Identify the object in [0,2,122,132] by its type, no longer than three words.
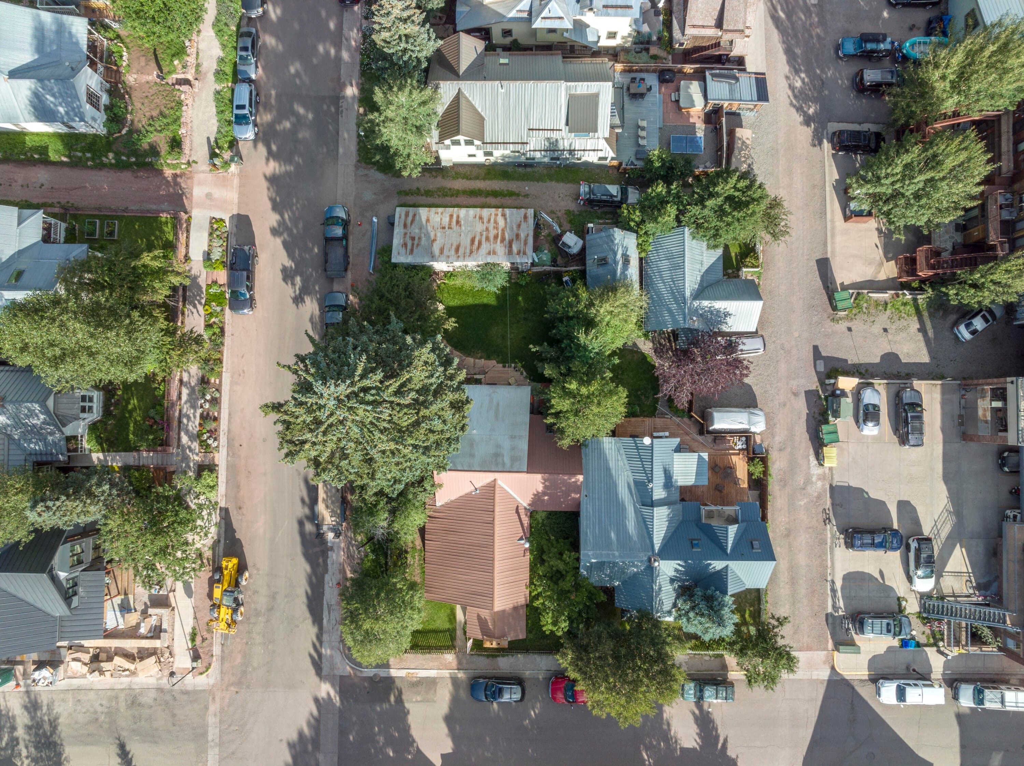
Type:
house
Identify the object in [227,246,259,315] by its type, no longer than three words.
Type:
vehicle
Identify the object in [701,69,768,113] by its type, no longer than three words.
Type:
shed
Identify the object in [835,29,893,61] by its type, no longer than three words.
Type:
car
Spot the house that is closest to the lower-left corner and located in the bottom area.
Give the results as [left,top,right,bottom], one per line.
[0,523,121,658]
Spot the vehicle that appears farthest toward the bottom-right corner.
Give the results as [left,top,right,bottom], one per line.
[947,677,1024,710]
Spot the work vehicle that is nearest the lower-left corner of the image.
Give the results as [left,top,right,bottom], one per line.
[210,561,249,644]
